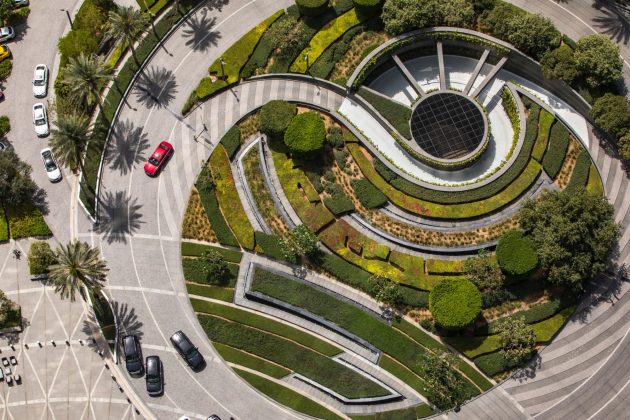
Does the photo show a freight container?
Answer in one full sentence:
No, the photo shows no freight container.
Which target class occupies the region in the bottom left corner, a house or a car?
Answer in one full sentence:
What appears in the bottom left corner is a car.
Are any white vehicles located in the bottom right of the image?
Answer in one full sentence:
No, there is no white vehicle in the bottom right of the image.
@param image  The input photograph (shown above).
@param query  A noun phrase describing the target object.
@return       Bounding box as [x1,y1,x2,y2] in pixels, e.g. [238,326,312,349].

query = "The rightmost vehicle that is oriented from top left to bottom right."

[169,332,205,372]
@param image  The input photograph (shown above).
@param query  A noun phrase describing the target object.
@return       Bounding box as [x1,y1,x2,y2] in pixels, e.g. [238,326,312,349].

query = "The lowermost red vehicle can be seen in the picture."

[145,141,173,176]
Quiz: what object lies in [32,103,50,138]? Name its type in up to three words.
car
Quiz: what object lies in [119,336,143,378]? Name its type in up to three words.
car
